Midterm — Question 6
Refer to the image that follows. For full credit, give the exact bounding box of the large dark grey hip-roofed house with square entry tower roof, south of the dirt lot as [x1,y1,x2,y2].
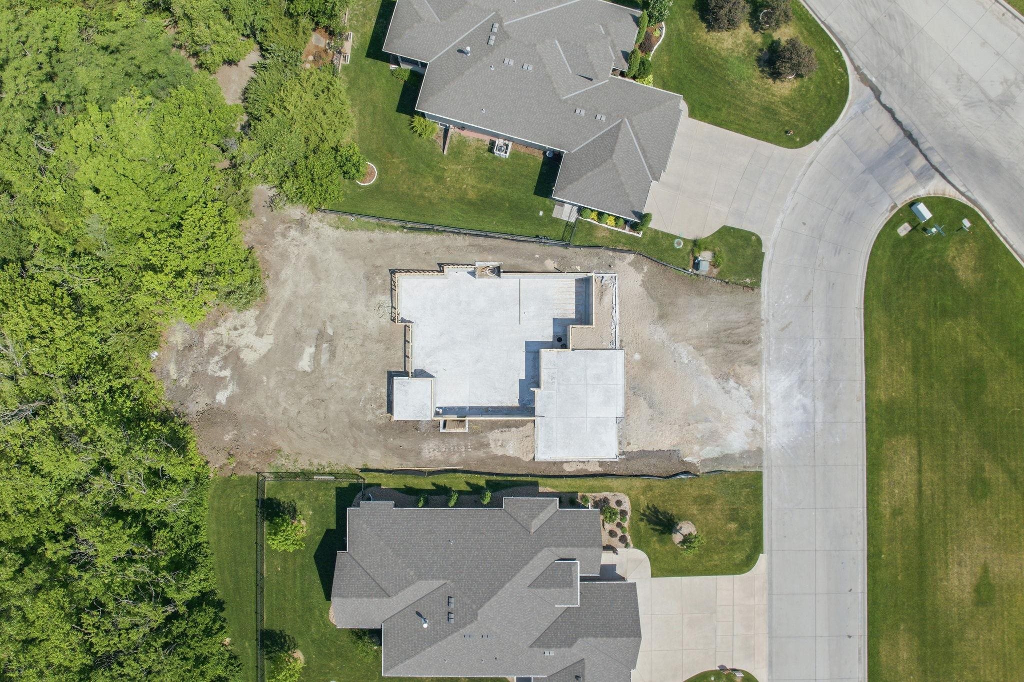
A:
[332,495,642,682]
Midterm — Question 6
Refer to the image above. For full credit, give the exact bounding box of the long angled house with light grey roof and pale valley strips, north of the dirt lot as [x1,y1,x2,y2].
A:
[382,0,684,222]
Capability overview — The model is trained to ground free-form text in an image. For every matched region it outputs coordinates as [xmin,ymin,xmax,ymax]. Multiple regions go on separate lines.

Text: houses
[332,495,642,682]
[382,0,684,222]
